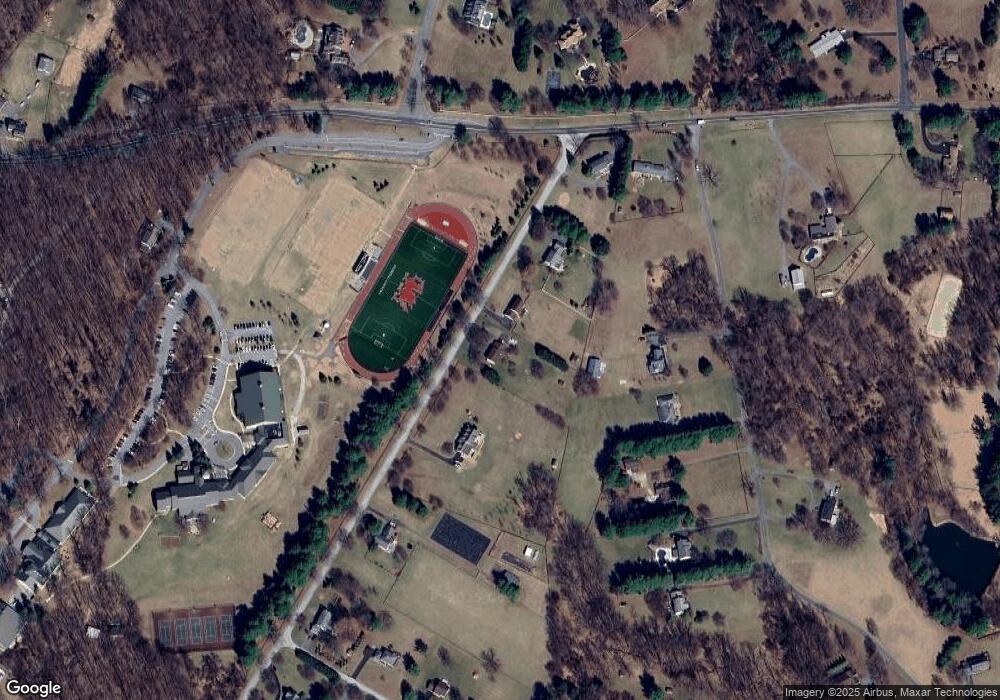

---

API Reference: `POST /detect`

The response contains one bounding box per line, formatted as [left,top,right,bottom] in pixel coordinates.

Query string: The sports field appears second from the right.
[265,180,387,315]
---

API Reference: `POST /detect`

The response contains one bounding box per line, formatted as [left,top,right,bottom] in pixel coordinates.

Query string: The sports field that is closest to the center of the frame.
[349,223,467,373]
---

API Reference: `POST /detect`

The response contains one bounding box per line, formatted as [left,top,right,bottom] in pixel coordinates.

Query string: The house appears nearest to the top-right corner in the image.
[934,48,961,62]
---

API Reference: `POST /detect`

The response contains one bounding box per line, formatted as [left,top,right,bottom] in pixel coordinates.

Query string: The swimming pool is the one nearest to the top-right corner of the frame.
[803,245,821,263]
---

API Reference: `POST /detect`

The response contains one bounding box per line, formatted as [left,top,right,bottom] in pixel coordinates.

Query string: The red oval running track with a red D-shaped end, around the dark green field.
[340,194,477,382]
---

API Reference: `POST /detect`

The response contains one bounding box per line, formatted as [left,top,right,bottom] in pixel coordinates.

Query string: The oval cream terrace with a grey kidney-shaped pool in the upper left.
[290,21,314,48]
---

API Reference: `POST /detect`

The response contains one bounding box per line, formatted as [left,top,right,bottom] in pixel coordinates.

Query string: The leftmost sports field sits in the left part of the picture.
[195,161,305,285]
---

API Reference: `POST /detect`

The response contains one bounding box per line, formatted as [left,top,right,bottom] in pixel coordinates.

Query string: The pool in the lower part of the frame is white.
[654,548,674,563]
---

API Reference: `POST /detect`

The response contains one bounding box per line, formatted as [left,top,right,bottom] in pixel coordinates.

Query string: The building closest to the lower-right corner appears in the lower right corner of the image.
[960,658,991,675]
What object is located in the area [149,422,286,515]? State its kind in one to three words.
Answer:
building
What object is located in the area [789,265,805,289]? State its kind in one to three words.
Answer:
barn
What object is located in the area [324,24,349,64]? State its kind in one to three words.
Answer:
house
